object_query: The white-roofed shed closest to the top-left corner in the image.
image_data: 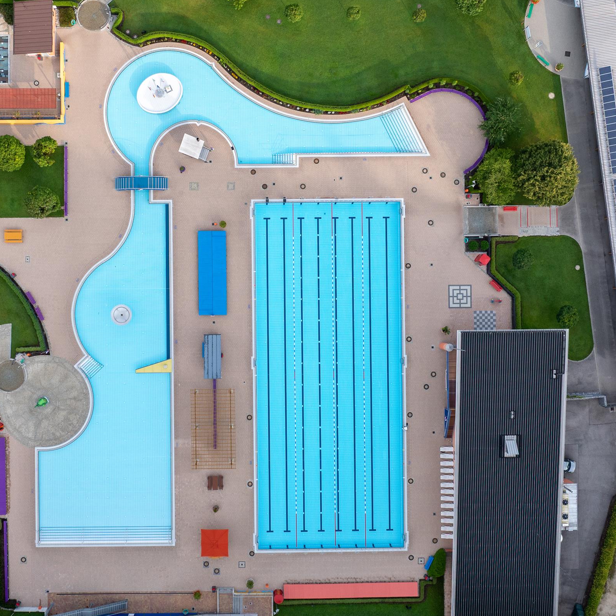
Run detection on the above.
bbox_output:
[178,134,212,161]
